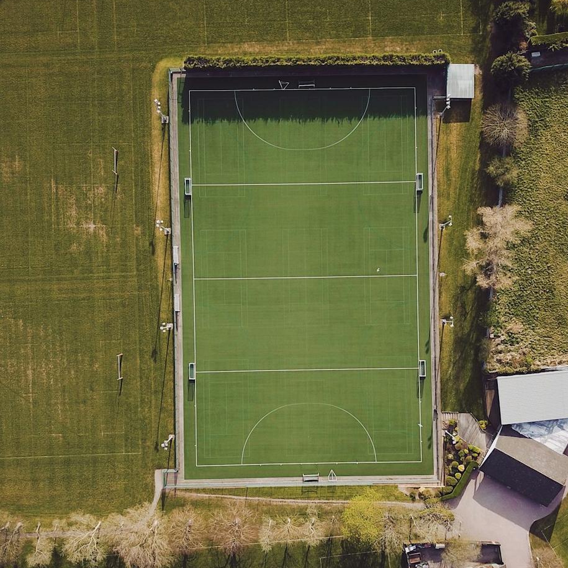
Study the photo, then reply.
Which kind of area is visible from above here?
sports ground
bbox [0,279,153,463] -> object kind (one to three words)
sports field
